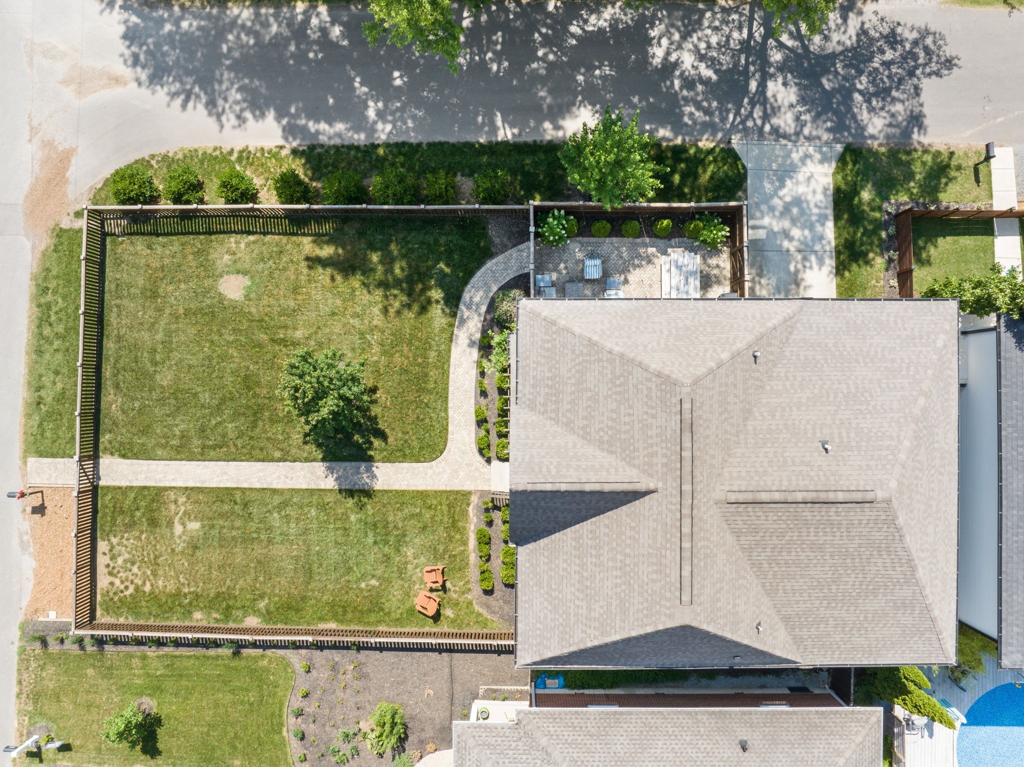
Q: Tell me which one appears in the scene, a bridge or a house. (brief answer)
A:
house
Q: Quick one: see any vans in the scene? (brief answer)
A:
No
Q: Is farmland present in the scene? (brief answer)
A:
No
